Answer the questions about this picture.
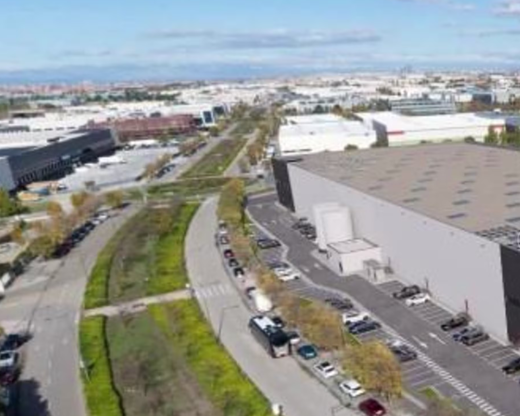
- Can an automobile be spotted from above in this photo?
Yes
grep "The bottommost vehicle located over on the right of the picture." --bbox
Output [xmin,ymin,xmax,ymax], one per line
[356,398,387,416]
